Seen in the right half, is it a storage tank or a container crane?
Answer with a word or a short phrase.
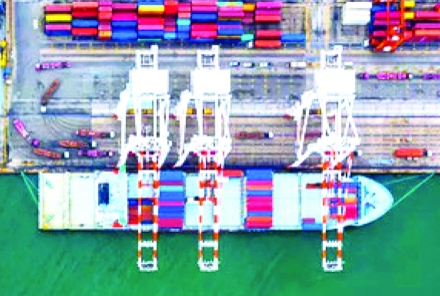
container crane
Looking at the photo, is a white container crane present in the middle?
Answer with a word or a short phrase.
Yes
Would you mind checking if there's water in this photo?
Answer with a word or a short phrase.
Yes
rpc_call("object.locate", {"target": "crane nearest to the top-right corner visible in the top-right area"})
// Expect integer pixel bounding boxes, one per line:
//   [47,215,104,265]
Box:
[373,0,407,52]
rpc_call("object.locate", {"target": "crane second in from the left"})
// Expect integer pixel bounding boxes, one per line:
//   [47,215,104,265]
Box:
[168,36,231,272]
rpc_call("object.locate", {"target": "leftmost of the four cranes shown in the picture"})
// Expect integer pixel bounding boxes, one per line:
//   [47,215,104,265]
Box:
[112,36,171,272]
